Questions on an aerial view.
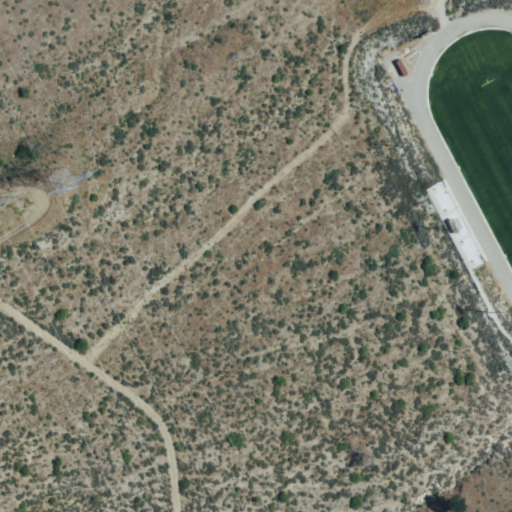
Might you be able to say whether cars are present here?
No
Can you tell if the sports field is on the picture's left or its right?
right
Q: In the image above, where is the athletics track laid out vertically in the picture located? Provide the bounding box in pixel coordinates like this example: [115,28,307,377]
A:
[412,8,512,302]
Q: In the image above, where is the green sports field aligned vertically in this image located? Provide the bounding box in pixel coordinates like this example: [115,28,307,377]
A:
[430,28,512,264]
